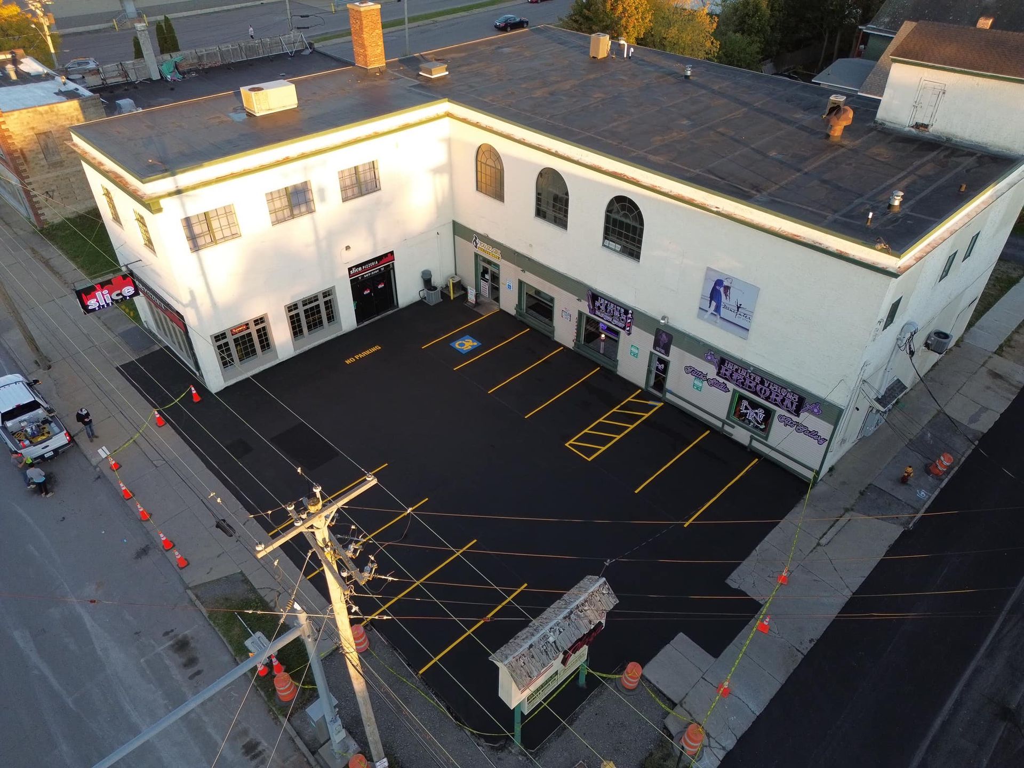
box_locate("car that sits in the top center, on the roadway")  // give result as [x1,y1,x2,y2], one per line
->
[498,11,522,26]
